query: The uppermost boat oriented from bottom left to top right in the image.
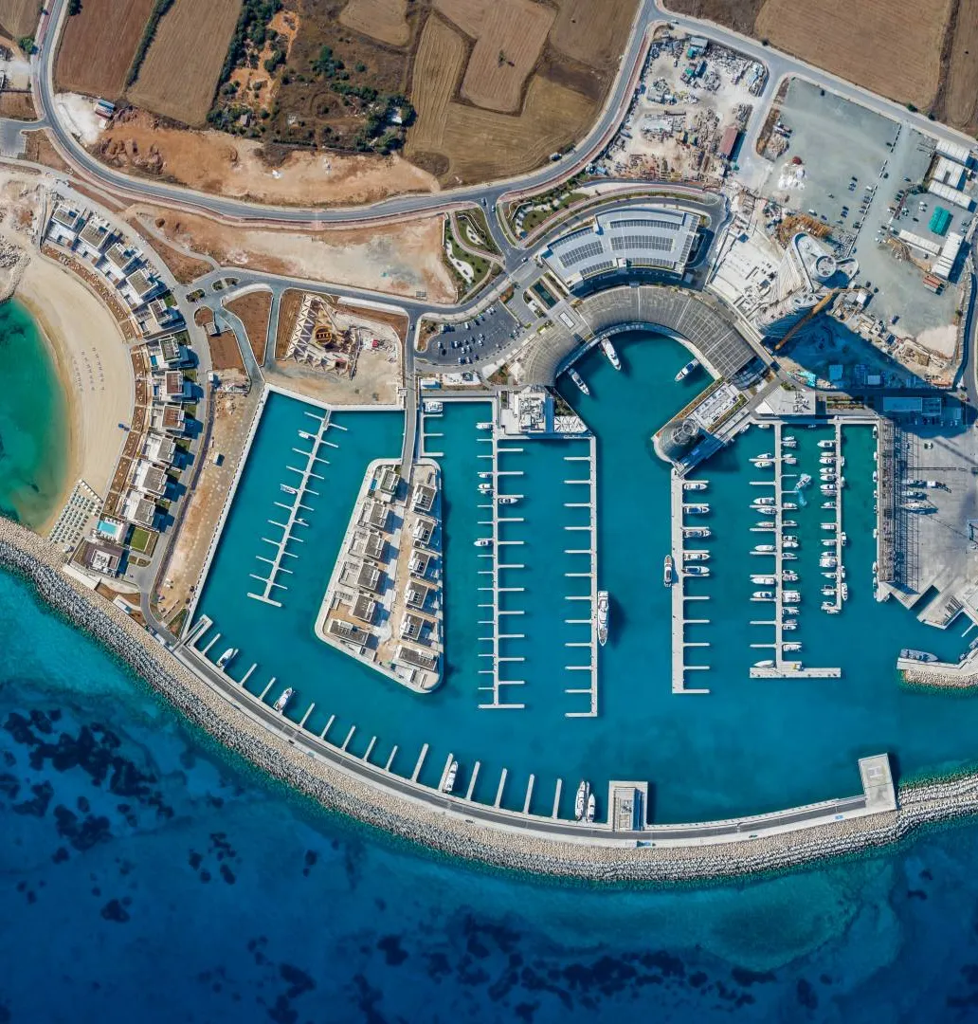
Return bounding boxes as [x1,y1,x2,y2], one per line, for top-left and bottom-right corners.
[676,358,701,380]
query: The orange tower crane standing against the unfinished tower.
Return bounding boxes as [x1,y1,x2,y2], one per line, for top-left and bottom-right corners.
[775,288,888,350]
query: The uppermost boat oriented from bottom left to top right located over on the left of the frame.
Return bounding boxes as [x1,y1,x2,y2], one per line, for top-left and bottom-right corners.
[217,649,234,668]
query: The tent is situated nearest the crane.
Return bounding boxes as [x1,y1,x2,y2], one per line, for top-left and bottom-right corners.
[928,206,955,236]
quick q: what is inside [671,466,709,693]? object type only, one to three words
pier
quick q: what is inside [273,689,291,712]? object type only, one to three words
boat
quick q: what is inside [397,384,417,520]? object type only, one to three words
bridge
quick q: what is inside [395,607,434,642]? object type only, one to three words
house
